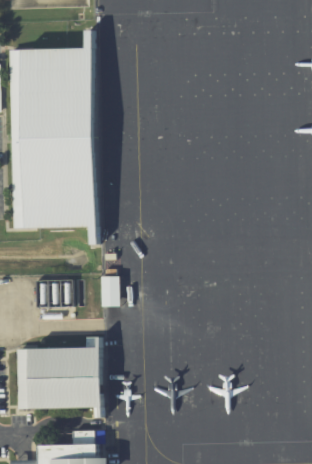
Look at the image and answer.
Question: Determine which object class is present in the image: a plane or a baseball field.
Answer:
plane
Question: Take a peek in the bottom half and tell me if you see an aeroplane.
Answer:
Yes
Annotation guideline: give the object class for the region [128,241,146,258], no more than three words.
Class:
vehicle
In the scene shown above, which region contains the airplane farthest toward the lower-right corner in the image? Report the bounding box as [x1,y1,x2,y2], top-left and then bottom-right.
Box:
[206,376,248,414]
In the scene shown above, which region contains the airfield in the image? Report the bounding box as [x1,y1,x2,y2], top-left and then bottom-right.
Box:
[96,0,312,464]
